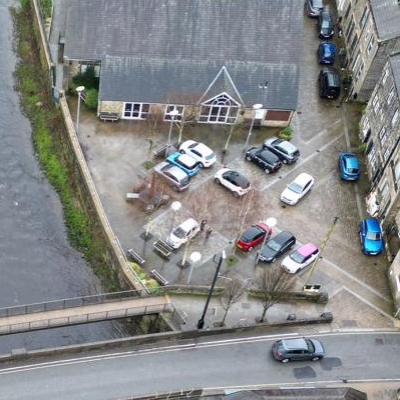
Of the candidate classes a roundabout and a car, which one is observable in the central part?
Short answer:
car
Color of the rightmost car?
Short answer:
blue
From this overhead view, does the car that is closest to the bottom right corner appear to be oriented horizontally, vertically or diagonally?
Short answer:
horizontally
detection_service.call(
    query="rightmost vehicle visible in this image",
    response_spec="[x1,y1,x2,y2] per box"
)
[358,213,389,252]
